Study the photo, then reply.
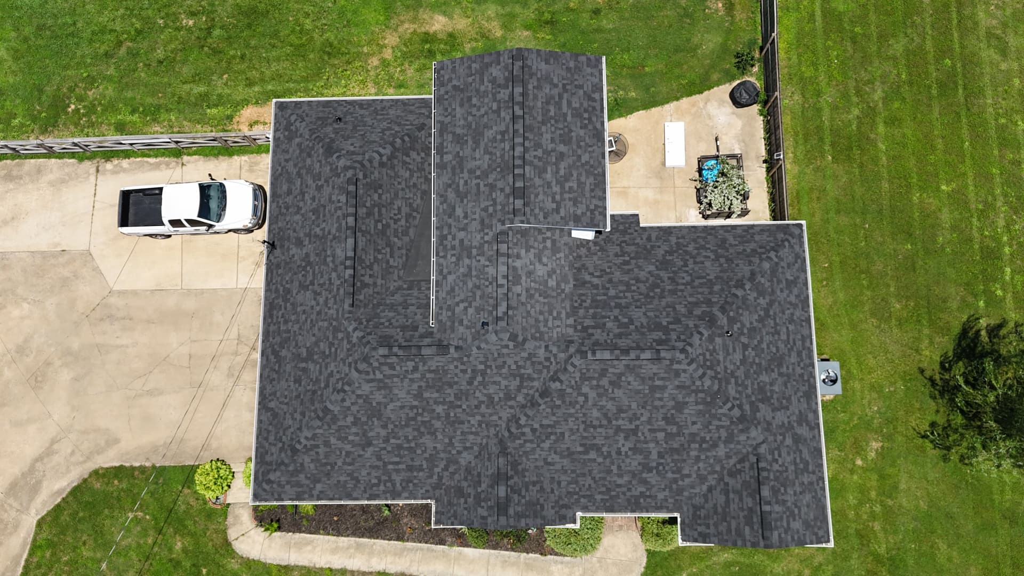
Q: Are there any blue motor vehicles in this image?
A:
No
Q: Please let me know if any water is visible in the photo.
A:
No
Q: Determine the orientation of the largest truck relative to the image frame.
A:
from left to right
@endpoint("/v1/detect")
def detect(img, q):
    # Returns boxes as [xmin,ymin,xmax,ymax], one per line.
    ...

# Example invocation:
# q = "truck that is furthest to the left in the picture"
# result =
[117,172,267,237]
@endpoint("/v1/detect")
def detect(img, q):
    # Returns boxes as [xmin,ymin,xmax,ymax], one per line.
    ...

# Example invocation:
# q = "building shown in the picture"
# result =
[251,48,832,549]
